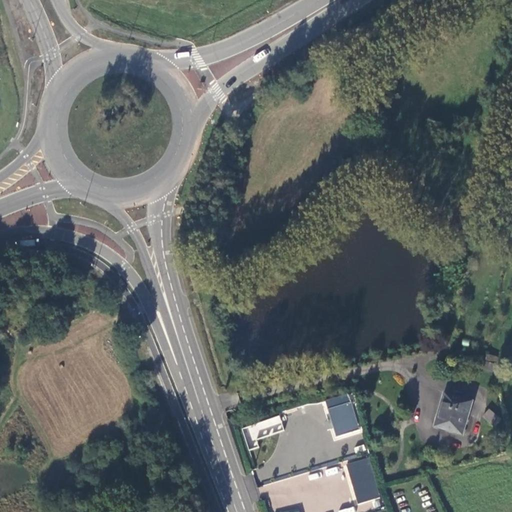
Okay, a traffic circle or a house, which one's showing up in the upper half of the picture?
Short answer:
traffic circle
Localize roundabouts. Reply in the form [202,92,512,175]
[38,46,202,208]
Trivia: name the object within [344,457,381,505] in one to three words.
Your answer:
building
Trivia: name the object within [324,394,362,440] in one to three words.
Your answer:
building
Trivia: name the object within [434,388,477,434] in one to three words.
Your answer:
house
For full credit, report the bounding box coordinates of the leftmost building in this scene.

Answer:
[242,416,284,451]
